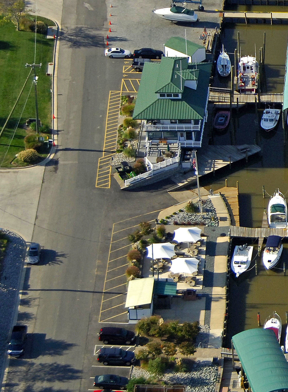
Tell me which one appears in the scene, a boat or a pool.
boat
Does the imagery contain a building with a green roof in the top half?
Yes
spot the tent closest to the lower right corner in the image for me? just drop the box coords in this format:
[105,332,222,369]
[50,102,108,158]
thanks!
[167,258,202,276]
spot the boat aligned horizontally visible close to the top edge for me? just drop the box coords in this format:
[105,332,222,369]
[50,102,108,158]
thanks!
[150,5,200,24]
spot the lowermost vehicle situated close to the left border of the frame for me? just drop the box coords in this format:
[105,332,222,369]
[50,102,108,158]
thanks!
[8,327,28,356]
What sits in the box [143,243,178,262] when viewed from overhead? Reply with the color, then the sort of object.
white tent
